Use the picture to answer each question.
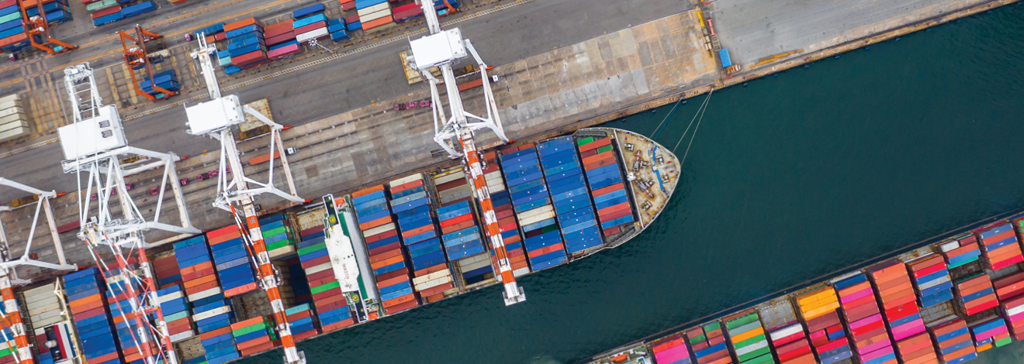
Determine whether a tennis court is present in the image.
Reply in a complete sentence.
No, this view has no tennis court in it.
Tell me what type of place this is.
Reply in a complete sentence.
This looks like a port.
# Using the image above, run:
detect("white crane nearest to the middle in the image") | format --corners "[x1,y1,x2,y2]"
[403,0,527,306]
